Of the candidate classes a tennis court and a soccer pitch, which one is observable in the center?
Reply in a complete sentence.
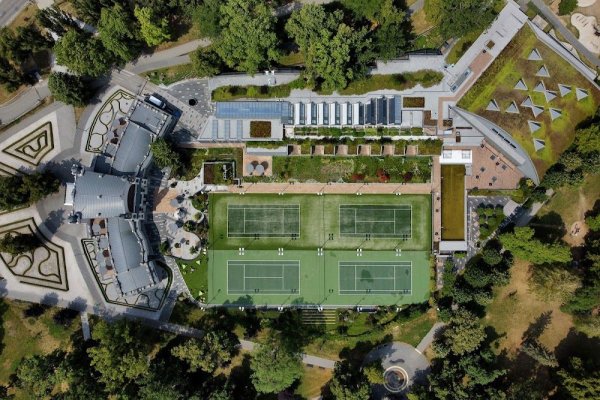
What appears in the center is a tennis court.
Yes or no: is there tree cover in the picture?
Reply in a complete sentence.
Yes, there is tree cover in the image.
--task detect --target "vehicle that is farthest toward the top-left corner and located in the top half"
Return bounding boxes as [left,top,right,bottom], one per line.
[148,95,168,111]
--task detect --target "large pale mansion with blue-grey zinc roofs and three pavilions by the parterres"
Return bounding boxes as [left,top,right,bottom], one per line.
[62,100,180,295]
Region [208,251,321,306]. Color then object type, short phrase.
green tennis court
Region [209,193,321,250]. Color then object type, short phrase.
green tennis court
